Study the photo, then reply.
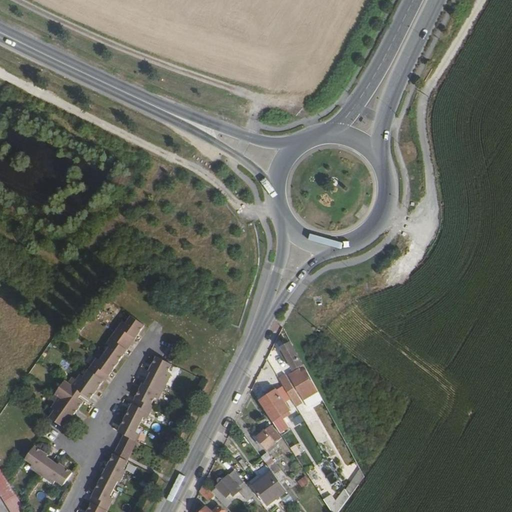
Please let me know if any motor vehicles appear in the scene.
Yes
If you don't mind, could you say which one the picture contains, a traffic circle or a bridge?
traffic circle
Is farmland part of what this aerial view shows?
Yes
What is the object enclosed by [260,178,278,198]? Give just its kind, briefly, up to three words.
vehicle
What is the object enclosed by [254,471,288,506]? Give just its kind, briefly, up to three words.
house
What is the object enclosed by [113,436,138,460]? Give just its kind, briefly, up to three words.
house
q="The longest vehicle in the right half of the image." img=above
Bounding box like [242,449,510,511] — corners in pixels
[308,234,350,251]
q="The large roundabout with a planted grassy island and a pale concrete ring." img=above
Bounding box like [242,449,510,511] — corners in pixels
[268,126,395,254]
